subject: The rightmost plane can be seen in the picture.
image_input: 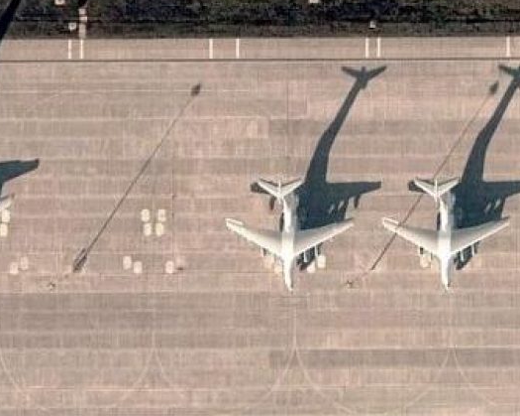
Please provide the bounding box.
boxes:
[382,177,510,289]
